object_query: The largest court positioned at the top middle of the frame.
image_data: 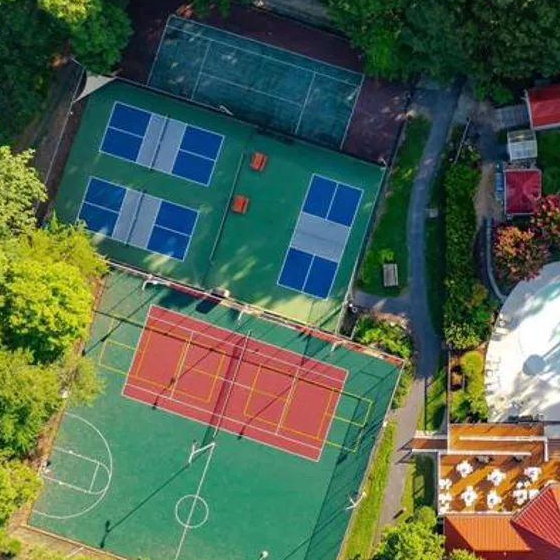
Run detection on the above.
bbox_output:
[147,15,364,145]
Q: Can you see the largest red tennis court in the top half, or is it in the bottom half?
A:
bottom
